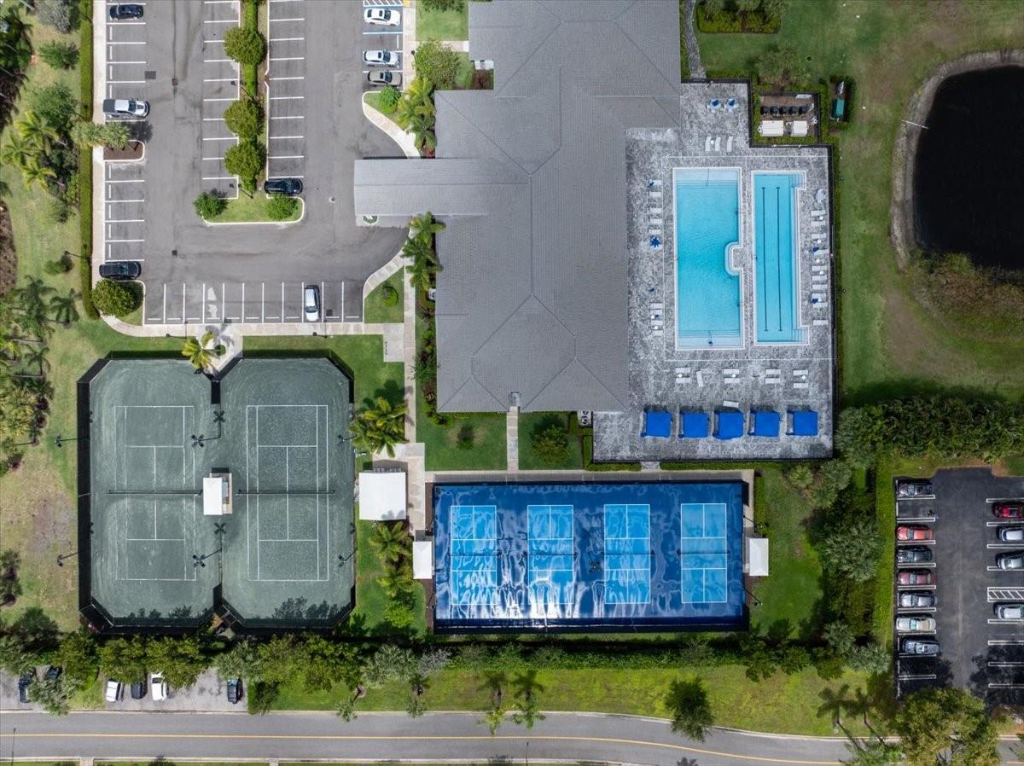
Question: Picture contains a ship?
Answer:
No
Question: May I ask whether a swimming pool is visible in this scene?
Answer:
Yes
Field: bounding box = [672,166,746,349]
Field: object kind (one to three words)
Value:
swimming pool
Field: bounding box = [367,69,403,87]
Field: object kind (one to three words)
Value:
car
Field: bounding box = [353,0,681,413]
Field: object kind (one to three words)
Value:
building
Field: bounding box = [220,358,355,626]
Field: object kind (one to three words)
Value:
tennis court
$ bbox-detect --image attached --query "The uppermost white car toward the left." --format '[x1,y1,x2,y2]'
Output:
[365,7,401,27]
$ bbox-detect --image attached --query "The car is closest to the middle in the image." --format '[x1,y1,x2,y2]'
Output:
[303,285,321,322]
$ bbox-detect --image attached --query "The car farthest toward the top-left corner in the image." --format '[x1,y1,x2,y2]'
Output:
[109,2,146,21]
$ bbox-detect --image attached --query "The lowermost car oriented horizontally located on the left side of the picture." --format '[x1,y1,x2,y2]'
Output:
[99,261,143,279]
